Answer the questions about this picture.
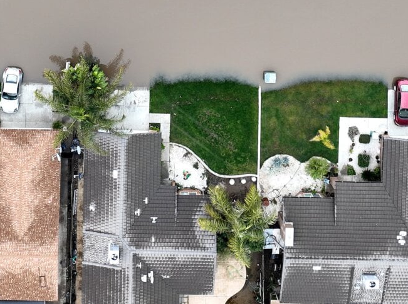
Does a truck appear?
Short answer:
No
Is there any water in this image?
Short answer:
Yes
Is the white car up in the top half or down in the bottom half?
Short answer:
top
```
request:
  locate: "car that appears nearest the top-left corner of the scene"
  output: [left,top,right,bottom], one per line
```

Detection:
[0,63,25,114]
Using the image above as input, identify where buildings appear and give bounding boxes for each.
[81,129,216,304]
[281,136,408,304]
[0,126,62,300]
